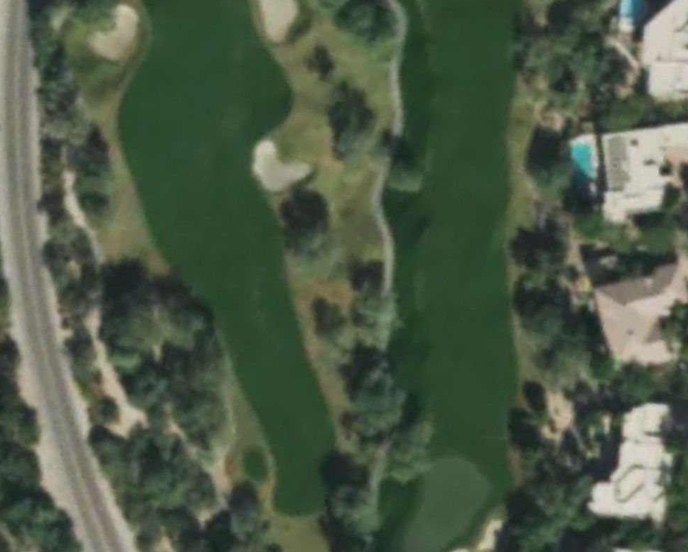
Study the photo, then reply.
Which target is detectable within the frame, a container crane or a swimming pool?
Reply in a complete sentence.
Of the two, only a swimming pool appears.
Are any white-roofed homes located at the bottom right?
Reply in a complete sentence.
Yes, the scene does show a white-roofed home at the bottom right.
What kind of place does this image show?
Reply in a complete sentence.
The area seen from above is a golf course.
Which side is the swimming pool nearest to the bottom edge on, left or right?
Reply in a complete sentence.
The swimming pool nearest to the bottom edge is on the right side of the image.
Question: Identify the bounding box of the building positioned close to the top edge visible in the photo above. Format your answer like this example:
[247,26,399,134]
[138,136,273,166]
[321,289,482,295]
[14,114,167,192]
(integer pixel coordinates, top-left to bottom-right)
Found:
[642,0,688,100]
